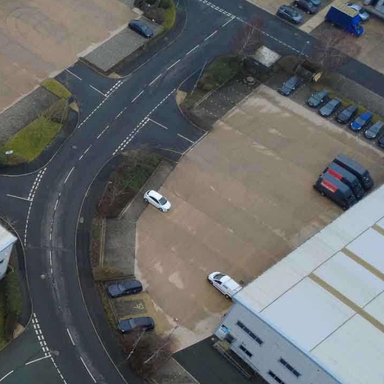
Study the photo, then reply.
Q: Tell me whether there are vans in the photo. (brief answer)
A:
Yes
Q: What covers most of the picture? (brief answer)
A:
paved ground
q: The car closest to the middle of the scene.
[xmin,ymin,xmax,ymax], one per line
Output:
[144,191,171,211]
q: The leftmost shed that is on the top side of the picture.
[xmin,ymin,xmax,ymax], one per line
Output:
[247,46,282,77]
